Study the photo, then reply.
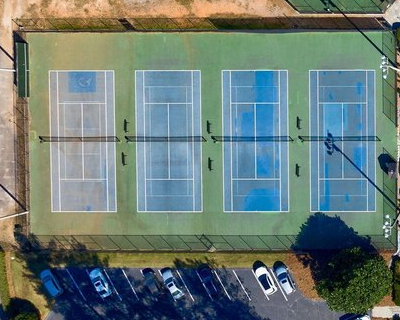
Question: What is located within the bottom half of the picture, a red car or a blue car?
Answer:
blue car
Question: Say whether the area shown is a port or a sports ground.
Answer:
sports ground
